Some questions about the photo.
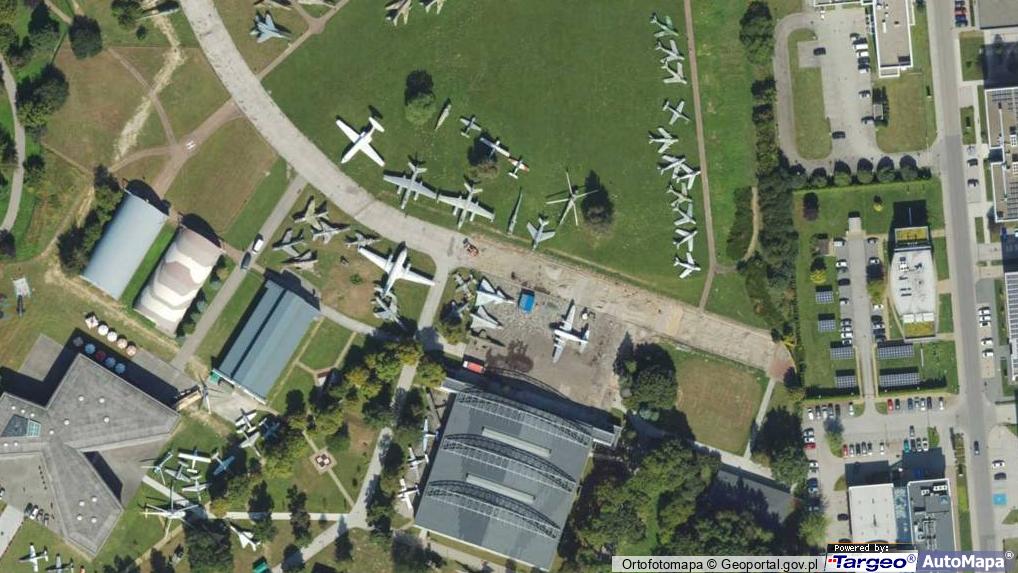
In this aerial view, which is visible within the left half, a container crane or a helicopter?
helicopter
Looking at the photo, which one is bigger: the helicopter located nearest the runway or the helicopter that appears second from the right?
the helicopter located nearest the runway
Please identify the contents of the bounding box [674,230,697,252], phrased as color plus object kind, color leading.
white airplane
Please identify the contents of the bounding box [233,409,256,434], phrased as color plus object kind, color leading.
white airplane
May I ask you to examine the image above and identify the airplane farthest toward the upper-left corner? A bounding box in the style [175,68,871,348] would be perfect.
[136,7,179,21]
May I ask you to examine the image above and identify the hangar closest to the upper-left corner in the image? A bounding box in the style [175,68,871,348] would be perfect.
[82,190,169,301]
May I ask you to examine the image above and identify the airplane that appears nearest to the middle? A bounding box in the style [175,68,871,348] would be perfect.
[477,282,517,311]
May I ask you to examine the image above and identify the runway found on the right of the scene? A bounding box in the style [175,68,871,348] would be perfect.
[461,236,790,371]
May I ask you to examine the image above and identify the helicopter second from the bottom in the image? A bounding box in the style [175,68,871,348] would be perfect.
[141,454,173,484]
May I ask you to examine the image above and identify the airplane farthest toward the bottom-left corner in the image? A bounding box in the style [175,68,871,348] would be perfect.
[17,545,47,572]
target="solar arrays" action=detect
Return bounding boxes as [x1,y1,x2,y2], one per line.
[836,376,856,388]
[879,373,920,388]
[831,348,854,360]
[816,291,833,304]
[818,320,835,332]
[878,344,914,359]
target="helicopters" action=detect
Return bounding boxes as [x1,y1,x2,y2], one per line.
[140,483,198,539]
[546,171,597,225]
[200,377,224,415]
[141,454,173,484]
